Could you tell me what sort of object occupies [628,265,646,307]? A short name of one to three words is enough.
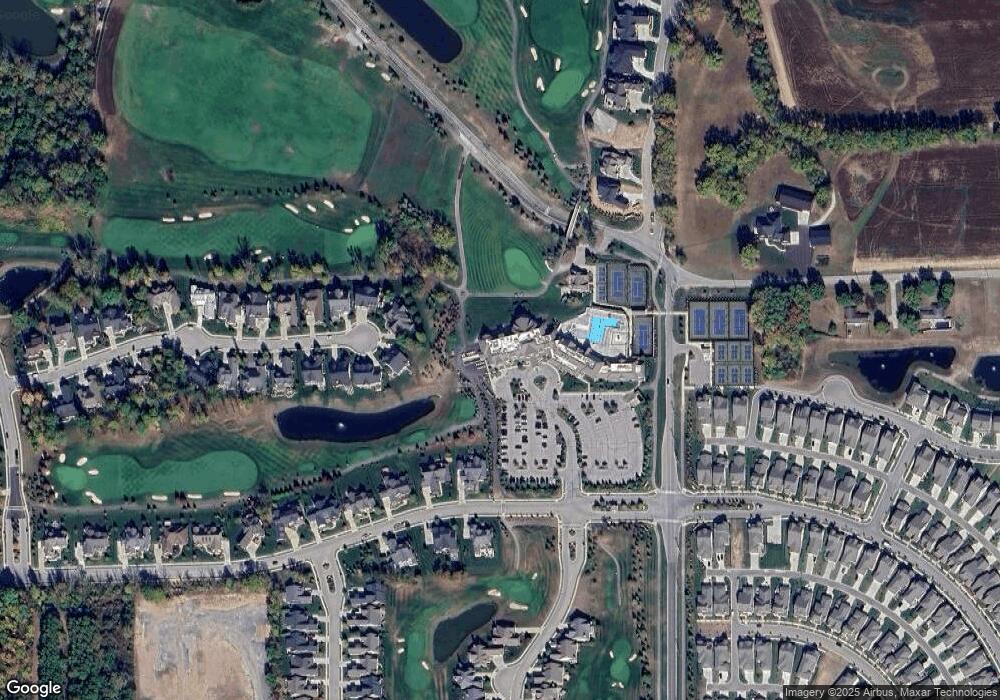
tennis court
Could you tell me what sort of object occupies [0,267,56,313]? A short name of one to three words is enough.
pond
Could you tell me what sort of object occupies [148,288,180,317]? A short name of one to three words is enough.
house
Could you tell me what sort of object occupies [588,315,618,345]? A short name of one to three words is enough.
swimming pool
